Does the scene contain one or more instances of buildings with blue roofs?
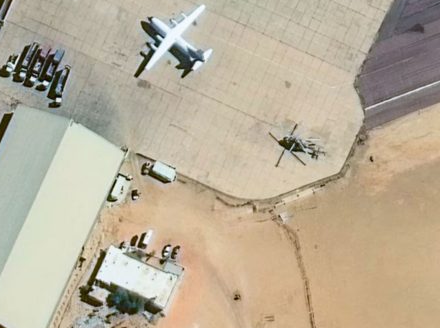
No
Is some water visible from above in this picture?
No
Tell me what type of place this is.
airport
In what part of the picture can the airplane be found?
top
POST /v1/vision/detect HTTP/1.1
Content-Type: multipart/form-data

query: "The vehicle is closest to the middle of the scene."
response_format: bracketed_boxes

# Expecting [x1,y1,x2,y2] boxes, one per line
[143,161,177,185]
